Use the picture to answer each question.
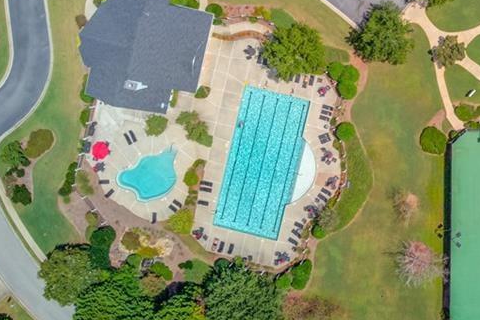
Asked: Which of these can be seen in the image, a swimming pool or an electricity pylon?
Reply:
swimming pool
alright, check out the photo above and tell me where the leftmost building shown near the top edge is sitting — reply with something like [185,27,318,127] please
[79,0,219,114]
